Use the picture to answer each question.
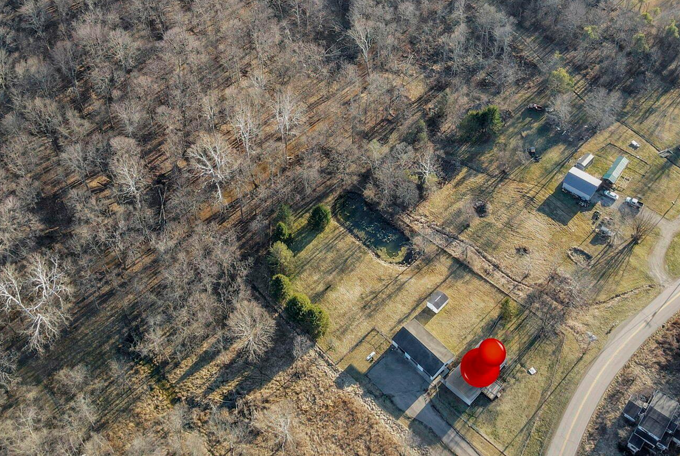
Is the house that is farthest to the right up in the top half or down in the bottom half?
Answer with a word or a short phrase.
bottom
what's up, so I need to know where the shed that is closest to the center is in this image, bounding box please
[426,291,449,315]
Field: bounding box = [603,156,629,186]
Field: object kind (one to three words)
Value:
shed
